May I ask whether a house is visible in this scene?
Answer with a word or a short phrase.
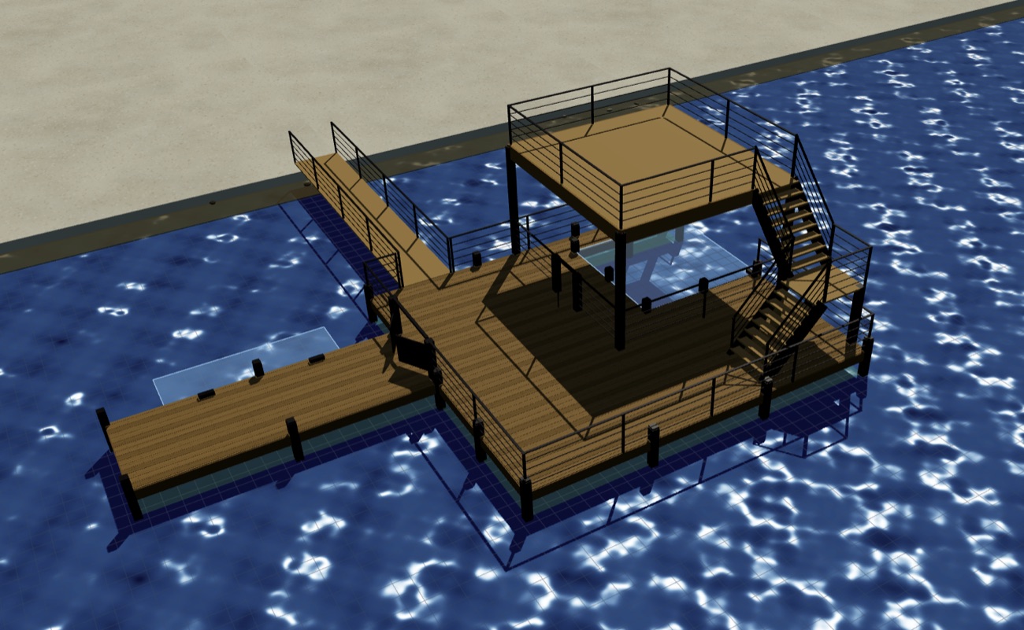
No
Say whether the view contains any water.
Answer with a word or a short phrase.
Yes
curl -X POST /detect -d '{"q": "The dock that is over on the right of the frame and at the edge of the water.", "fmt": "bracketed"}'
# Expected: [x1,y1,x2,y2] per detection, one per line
[370,225,864,516]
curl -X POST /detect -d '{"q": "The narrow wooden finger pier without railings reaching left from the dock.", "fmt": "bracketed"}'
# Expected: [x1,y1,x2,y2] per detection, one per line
[110,333,438,518]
